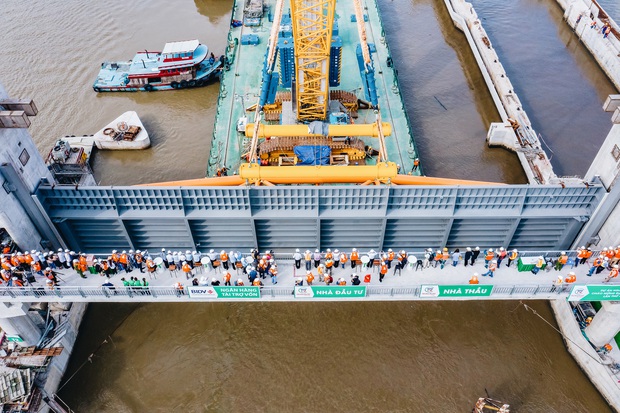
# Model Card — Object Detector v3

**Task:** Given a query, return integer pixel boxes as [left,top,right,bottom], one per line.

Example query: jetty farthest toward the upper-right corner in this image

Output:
[553,0,620,89]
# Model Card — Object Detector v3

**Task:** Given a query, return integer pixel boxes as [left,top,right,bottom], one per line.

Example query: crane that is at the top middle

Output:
[247,0,386,166]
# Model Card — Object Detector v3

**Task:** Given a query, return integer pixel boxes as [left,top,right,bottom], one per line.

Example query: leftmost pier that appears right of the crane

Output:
[441,0,560,184]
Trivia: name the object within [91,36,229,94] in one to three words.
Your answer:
boat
